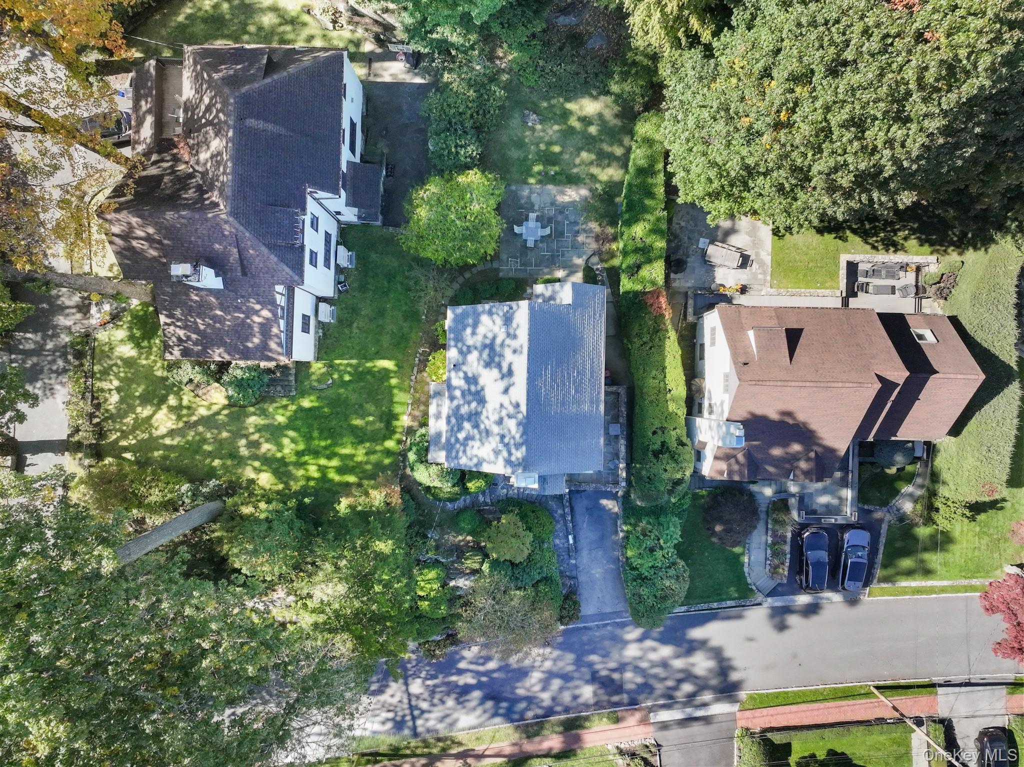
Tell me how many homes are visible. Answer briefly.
3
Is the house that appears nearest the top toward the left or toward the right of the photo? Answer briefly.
left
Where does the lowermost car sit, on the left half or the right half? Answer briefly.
right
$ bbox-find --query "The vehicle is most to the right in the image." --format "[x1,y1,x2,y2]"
[969,726,1010,767]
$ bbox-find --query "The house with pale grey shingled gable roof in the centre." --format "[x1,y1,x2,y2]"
[429,283,607,495]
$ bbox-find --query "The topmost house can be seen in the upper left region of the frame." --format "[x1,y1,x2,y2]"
[99,44,388,360]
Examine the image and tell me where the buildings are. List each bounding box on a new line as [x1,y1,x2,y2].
[429,283,607,495]
[99,44,388,360]
[686,304,984,484]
